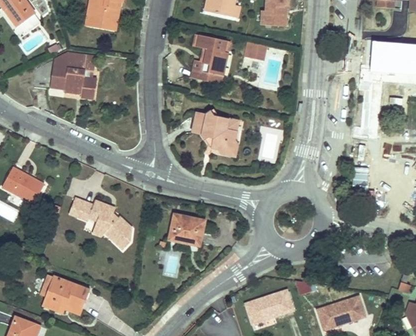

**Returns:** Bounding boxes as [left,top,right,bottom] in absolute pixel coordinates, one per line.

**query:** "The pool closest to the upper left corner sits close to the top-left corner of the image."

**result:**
[21,32,46,53]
